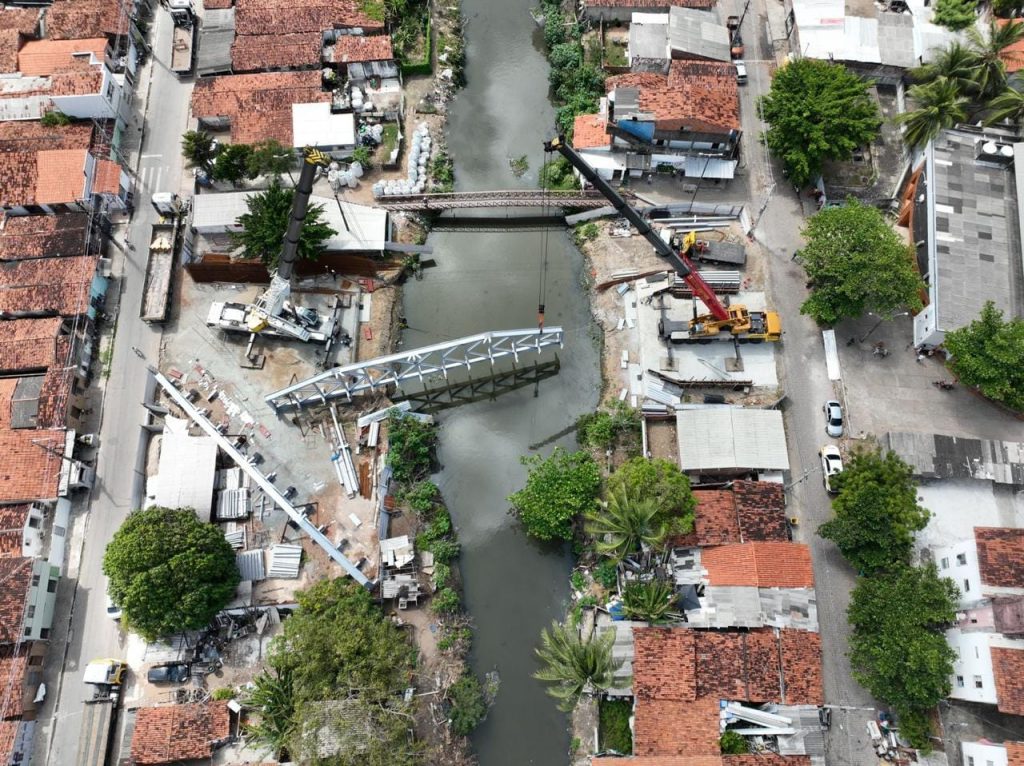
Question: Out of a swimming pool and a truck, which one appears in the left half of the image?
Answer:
truck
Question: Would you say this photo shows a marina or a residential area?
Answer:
residential area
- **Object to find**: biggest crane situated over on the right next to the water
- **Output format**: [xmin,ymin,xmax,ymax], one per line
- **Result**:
[533,137,785,370]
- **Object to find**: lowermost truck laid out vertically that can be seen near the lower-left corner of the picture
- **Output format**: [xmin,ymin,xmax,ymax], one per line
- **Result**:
[77,661,122,766]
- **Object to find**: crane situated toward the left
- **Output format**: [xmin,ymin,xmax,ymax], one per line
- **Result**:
[202,132,351,367]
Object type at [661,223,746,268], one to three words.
truck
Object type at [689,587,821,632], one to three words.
house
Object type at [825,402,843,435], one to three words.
car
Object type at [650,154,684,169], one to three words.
shed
